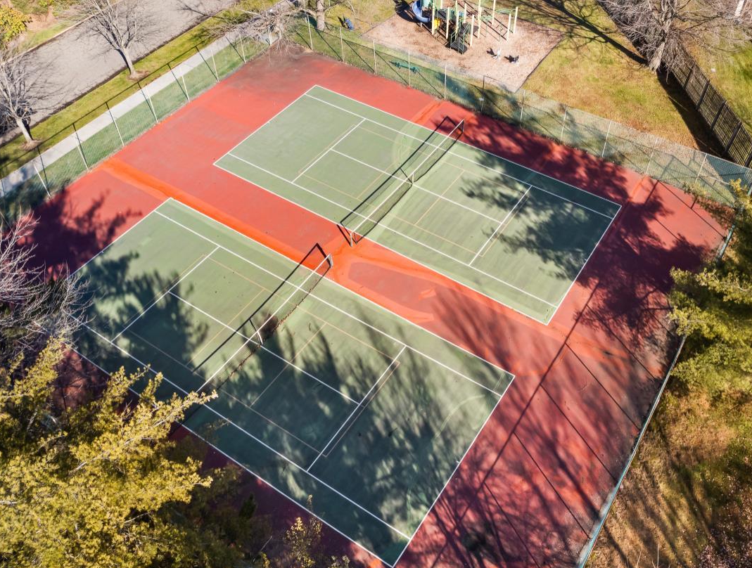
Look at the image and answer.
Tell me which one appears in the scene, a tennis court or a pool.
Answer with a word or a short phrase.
tennis court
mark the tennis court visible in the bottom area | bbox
[21,197,514,568]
